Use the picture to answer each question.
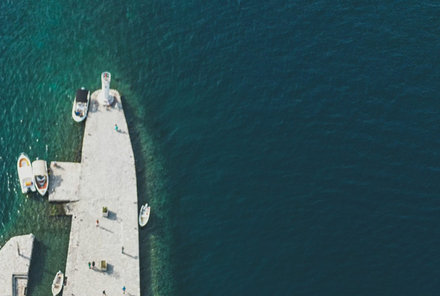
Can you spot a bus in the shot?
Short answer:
No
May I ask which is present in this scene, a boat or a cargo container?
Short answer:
boat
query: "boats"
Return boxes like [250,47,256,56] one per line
[32,157,48,197]
[74,84,90,124]
[139,203,151,226]
[52,268,63,296]
[19,155,36,194]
